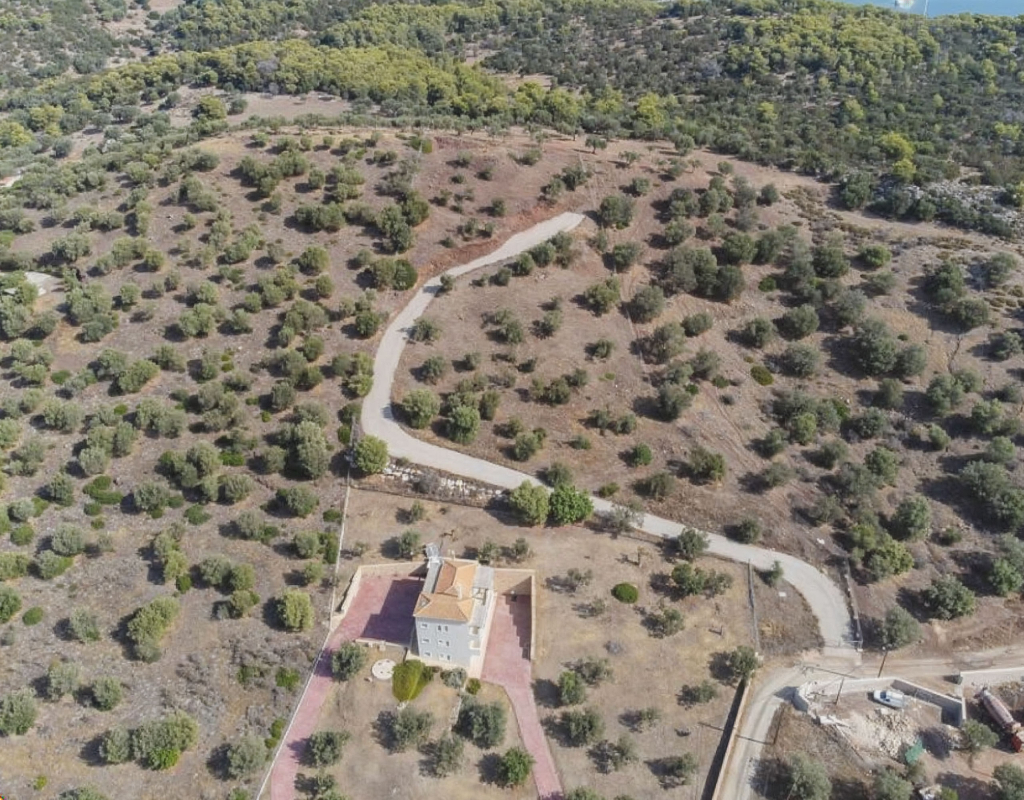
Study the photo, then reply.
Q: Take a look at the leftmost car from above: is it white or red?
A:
white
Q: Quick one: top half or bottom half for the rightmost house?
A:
bottom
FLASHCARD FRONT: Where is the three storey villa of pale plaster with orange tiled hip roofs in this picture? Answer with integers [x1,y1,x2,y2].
[412,562,497,672]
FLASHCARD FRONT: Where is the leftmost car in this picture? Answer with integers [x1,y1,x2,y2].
[871,688,908,712]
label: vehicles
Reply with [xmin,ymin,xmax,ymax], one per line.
[871,688,908,712]
[975,687,1024,756]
